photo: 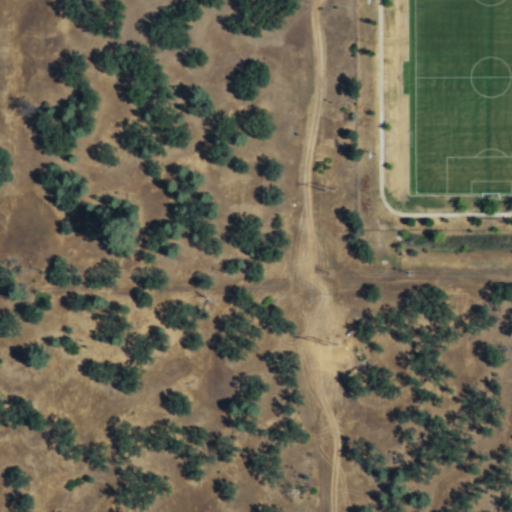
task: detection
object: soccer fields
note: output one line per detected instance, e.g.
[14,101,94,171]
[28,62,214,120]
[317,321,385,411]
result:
[402,0,512,196]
